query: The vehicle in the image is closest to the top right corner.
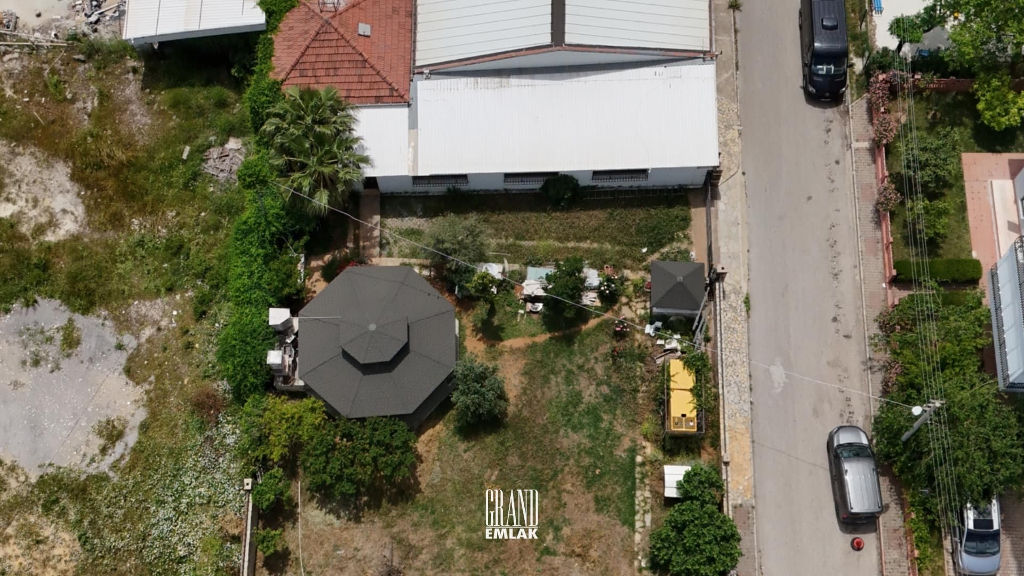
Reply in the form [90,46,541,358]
[797,0,855,100]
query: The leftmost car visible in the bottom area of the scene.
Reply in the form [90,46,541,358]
[831,424,885,529]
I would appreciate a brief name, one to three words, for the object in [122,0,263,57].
shed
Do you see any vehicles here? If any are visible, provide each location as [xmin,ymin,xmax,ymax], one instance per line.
[797,0,855,100]
[955,490,1006,576]
[831,424,885,529]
